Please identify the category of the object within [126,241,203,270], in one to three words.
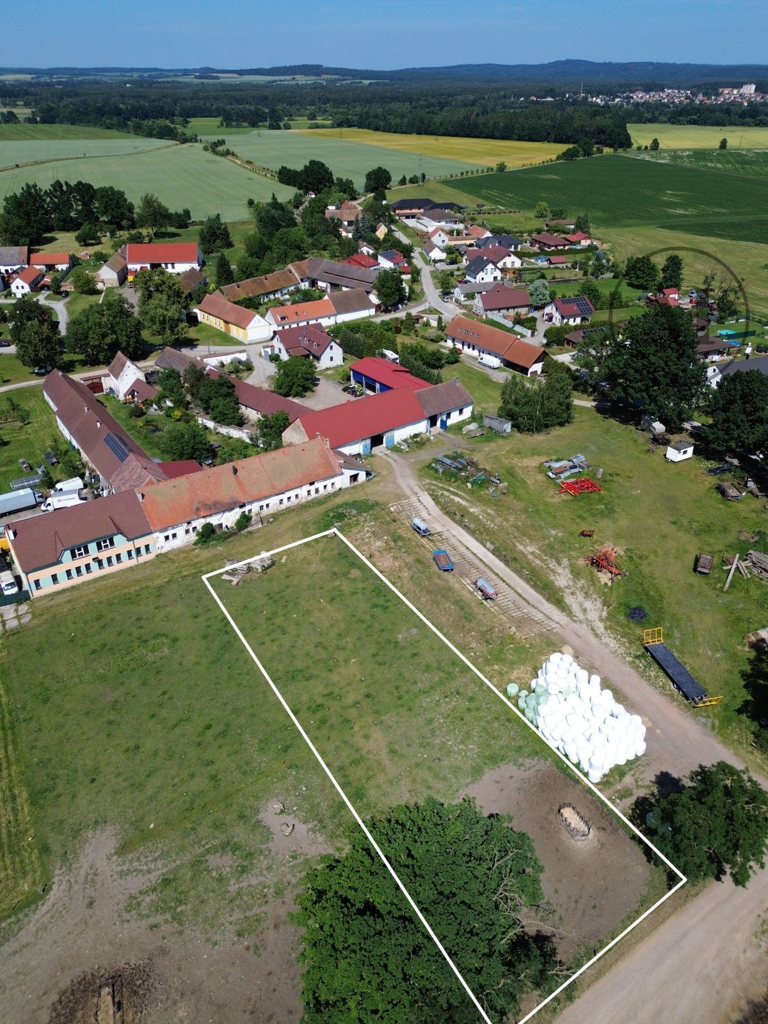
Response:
barn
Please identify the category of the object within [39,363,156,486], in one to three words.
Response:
house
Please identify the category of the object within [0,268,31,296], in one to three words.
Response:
house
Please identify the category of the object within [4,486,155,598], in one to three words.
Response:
building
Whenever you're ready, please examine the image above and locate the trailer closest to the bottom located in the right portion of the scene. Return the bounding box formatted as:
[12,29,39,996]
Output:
[644,629,713,703]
